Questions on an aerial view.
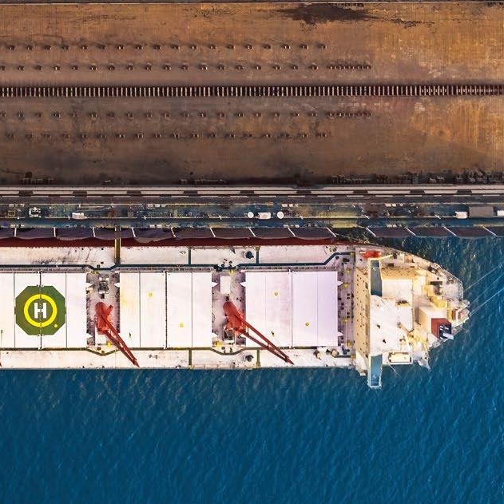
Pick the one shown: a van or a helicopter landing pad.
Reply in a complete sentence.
There is a helicopter landing pad in the scene.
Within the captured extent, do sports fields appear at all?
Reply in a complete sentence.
No, the photo shows no sports field.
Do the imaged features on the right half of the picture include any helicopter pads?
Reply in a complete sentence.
No, I see no helicopter pad on the right half of the picture.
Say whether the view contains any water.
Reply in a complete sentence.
Yes, water shows up in the scene.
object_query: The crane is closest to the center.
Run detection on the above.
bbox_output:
[220,299,295,365]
